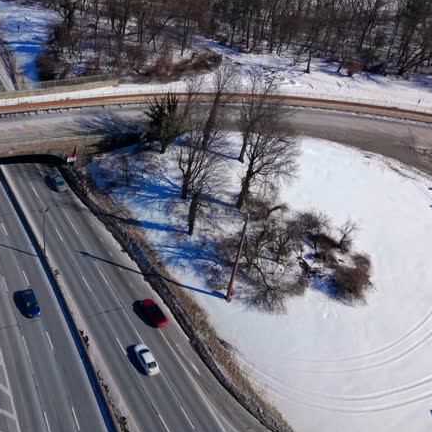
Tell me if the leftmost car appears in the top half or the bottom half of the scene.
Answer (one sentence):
The leftmost car is in the bottom half of the image.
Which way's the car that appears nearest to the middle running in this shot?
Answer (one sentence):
The car that appears nearest to the middle runs diagonally in the image.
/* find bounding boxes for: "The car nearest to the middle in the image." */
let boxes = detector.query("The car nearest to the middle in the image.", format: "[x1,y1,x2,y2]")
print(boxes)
[140,300,168,330]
